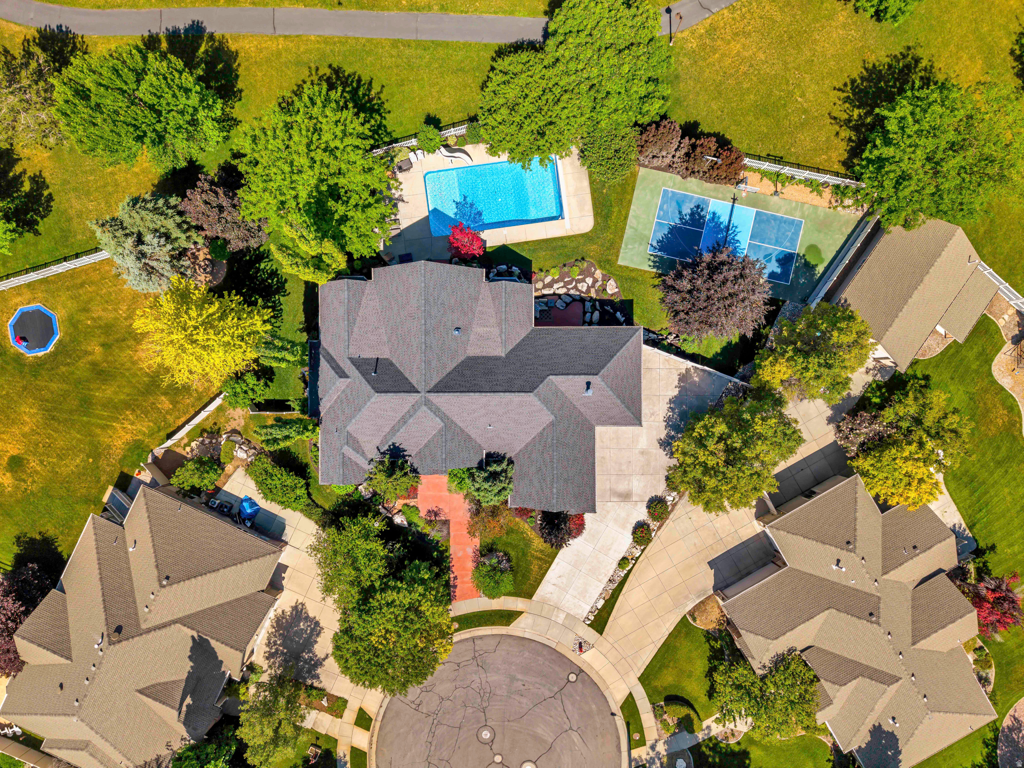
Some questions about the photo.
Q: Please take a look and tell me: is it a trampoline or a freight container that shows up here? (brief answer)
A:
trampoline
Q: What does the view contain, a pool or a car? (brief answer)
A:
pool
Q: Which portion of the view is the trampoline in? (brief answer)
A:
left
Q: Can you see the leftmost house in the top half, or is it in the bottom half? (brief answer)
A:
bottom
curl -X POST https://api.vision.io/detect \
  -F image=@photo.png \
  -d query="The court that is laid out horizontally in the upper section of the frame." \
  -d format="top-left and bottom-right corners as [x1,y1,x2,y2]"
[618,167,860,301]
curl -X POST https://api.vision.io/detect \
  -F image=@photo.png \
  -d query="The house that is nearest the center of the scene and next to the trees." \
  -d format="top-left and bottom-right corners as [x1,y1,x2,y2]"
[308,260,643,513]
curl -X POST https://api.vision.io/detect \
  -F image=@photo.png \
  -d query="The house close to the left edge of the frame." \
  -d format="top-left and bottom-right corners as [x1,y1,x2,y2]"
[0,484,289,768]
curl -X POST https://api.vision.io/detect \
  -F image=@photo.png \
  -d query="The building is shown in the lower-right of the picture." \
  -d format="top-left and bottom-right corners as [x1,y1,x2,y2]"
[717,473,998,768]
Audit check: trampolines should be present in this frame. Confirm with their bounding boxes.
[6,302,61,357]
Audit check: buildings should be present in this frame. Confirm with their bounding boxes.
[717,473,998,768]
[0,484,289,768]
[828,208,1005,374]
[308,260,643,513]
